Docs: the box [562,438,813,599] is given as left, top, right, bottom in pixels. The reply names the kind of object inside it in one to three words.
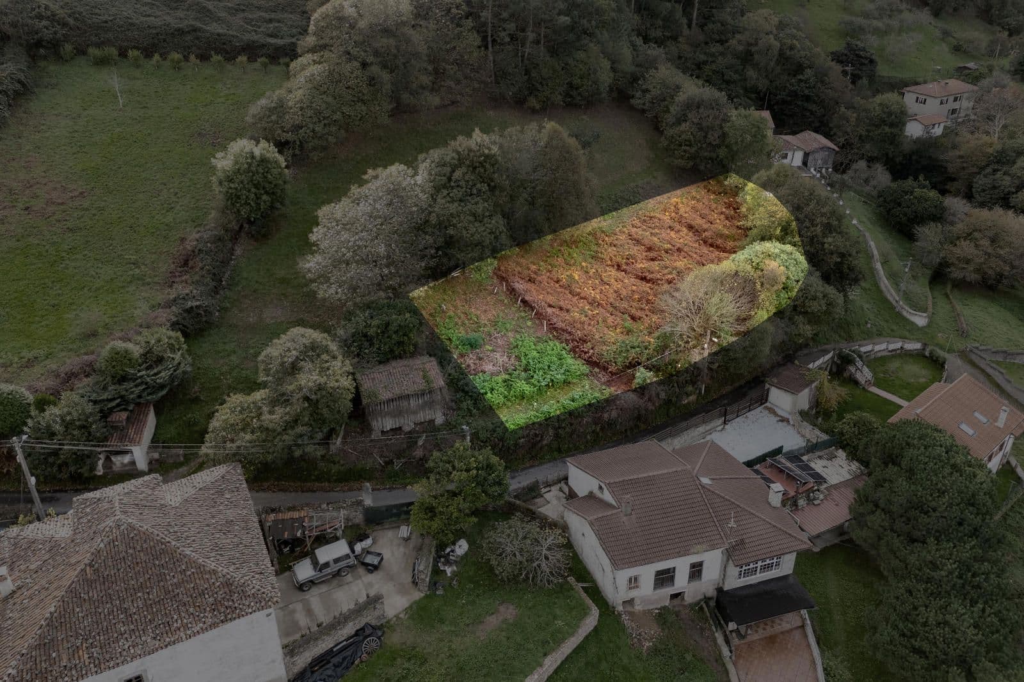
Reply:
house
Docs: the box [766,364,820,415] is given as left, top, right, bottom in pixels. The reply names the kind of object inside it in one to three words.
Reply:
building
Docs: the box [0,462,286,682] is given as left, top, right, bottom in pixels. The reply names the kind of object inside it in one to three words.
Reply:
house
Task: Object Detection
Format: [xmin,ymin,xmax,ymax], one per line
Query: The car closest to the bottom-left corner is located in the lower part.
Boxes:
[281,533,360,591]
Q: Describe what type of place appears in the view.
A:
residential area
